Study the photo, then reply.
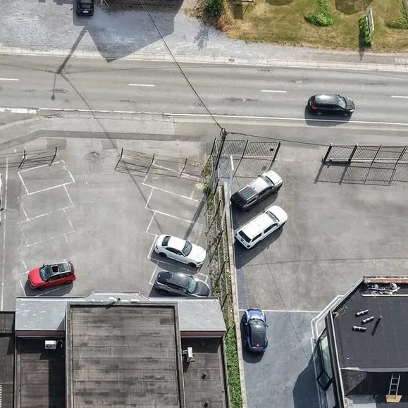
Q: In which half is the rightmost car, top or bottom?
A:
top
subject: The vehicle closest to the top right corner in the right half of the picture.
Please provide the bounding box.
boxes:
[306,93,354,119]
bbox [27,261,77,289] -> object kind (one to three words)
car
